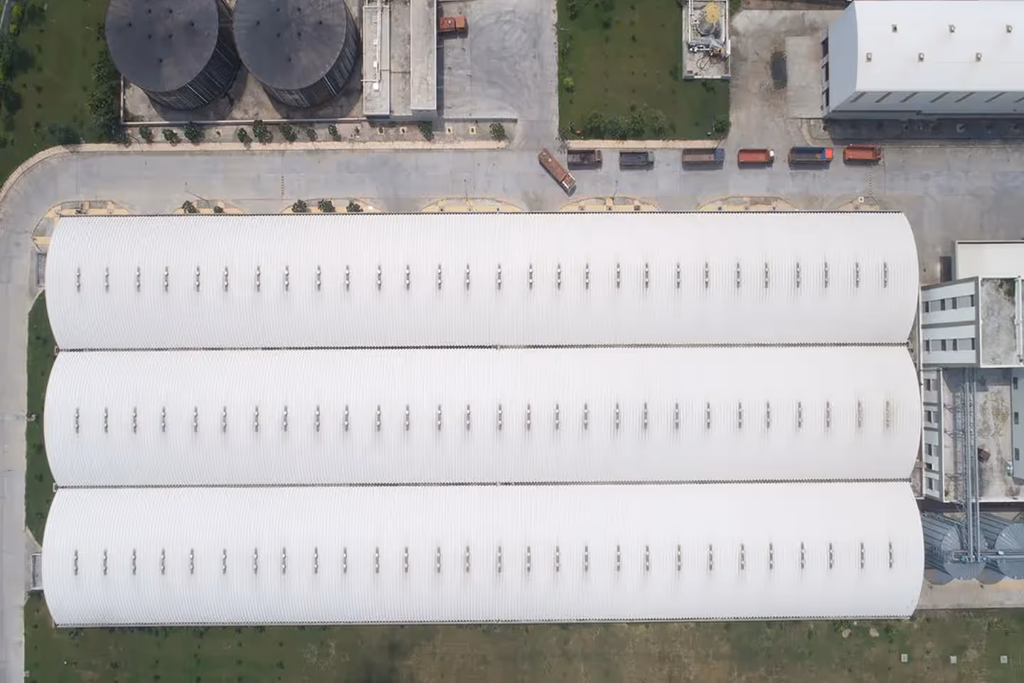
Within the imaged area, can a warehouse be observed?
Yes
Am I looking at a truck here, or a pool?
truck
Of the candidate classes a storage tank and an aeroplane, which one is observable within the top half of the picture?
storage tank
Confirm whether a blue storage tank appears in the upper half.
No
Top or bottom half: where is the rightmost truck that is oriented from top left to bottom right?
top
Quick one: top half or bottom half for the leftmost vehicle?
top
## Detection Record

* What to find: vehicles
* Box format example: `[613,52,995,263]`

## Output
[787,147,833,165]
[536,148,578,198]
[841,146,882,163]
[437,17,468,37]
[567,150,602,168]
[681,148,724,166]
[619,151,653,169]
[736,148,774,166]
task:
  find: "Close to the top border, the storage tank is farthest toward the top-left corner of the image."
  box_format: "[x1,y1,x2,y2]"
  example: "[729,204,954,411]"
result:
[104,0,241,112]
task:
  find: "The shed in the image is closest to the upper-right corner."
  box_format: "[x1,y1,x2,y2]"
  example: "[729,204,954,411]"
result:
[823,1,1024,120]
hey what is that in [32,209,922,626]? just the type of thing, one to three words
warehouse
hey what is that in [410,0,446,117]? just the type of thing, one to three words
building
